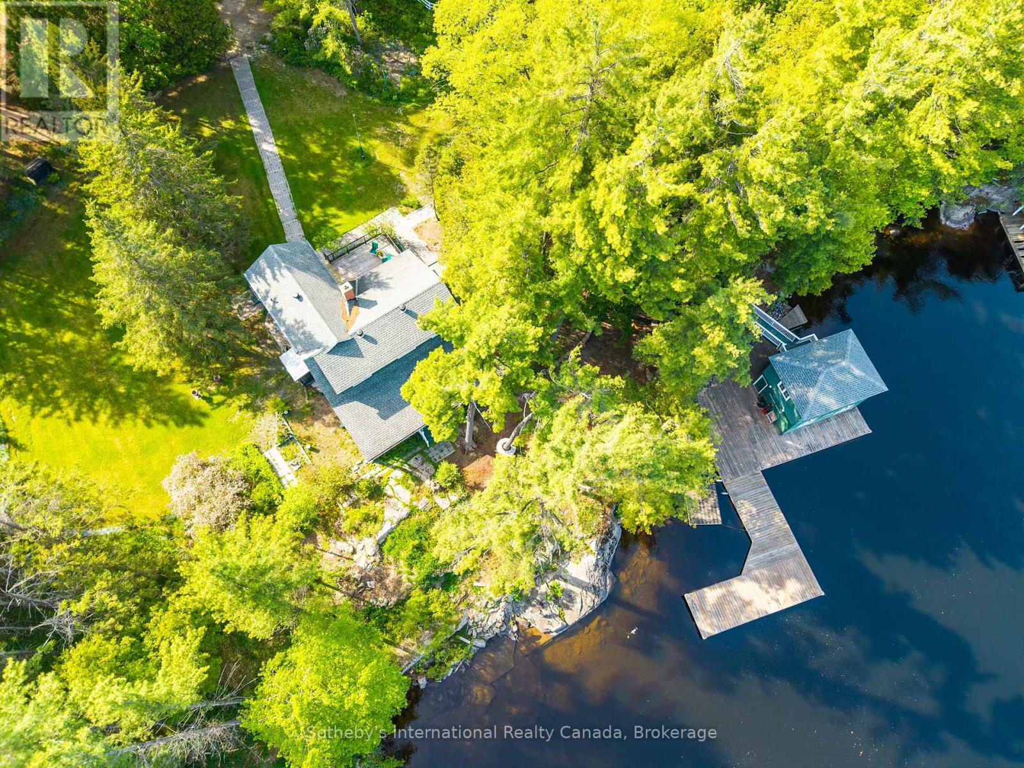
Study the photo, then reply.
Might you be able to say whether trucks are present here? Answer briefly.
No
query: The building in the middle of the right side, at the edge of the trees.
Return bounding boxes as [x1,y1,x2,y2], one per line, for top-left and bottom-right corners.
[757,328,887,432]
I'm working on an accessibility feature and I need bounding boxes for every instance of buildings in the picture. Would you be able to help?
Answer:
[243,238,467,464]
[757,328,887,432]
